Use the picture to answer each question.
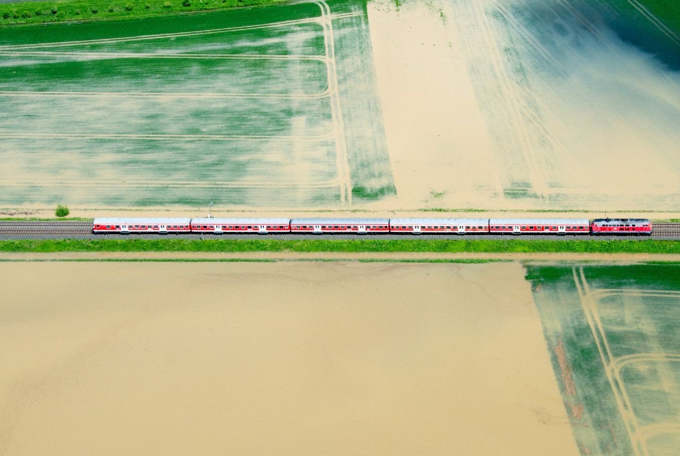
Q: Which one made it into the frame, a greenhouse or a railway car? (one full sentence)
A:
The one in the frame is a railway car.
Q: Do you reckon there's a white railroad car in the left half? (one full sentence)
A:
Yes, the scene does show a white railroad car in the left half.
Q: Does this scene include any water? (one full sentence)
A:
Yes, water shows up in the scene.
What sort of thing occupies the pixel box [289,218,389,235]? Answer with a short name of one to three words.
rail car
